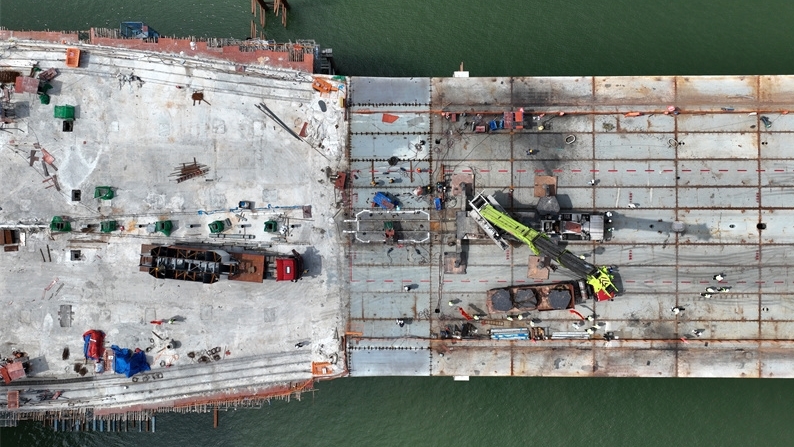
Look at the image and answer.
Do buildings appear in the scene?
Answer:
No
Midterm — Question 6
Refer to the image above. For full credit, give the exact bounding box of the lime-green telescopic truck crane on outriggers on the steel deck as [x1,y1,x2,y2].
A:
[456,182,630,300]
